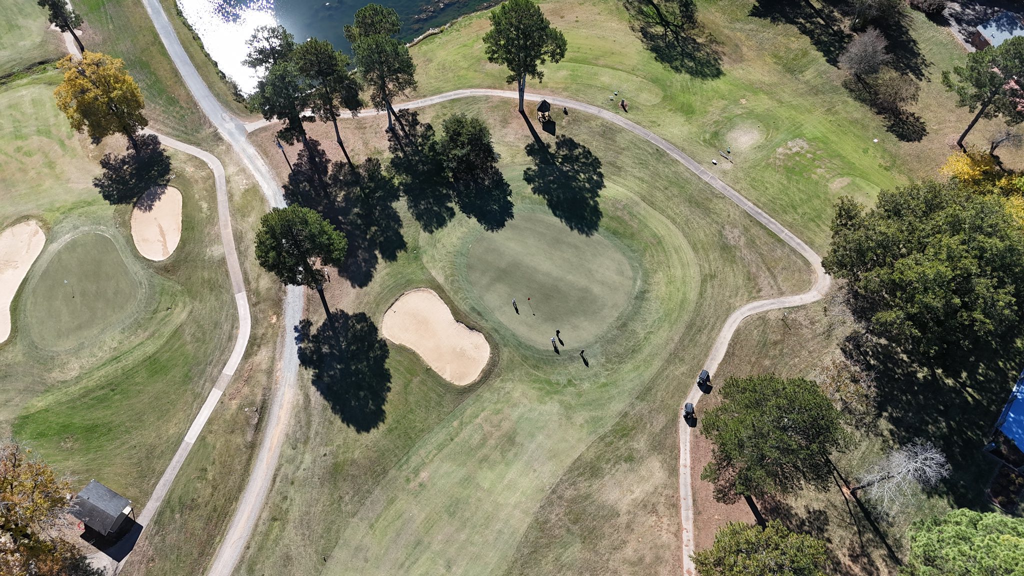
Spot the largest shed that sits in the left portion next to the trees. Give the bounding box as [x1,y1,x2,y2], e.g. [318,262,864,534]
[68,480,137,538]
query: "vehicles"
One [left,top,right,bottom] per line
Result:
[683,402,694,419]
[696,369,709,386]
